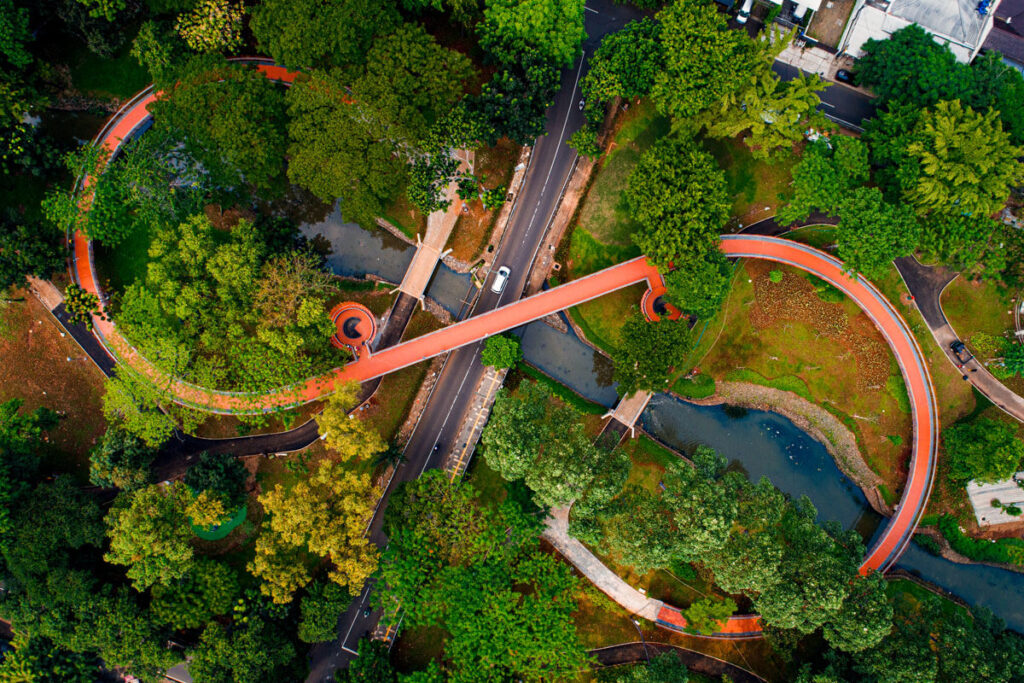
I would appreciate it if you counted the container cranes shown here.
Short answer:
0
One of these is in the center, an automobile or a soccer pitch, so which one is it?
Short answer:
automobile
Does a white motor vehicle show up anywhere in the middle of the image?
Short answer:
Yes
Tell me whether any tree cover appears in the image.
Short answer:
Yes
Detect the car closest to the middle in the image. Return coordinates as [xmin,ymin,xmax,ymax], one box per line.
[492,266,510,295]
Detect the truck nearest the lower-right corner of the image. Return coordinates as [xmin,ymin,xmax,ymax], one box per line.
[949,339,974,366]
